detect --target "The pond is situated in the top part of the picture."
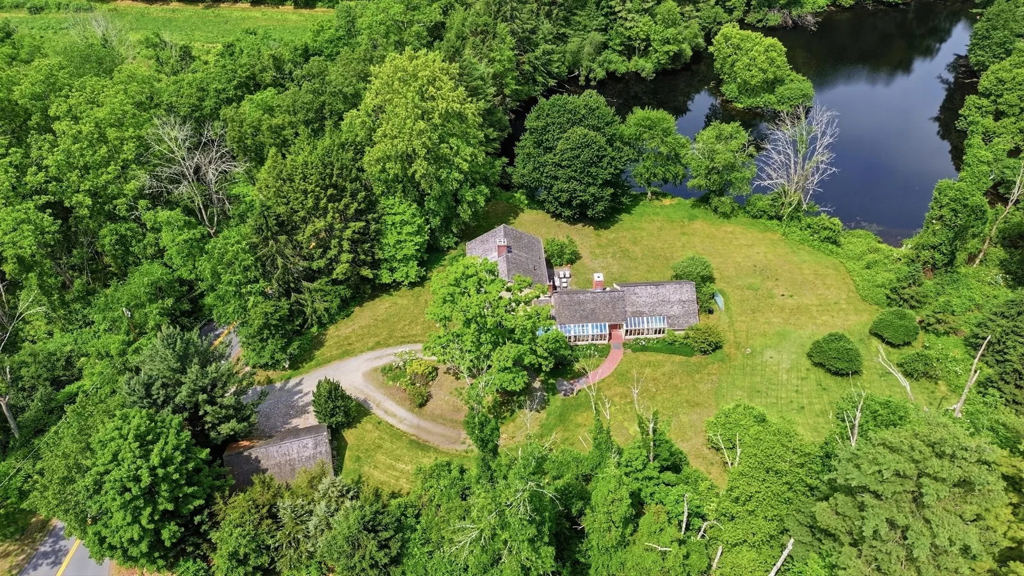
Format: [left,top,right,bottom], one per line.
[488,3,982,248]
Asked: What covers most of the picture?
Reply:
trees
